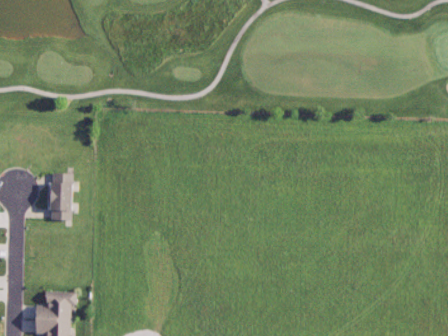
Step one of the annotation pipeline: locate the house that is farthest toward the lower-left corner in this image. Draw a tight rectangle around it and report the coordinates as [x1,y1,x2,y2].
[36,292,75,336]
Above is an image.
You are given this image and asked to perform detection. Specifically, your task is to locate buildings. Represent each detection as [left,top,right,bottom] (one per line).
[36,292,75,336]
[50,168,74,226]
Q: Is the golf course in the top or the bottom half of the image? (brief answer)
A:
top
